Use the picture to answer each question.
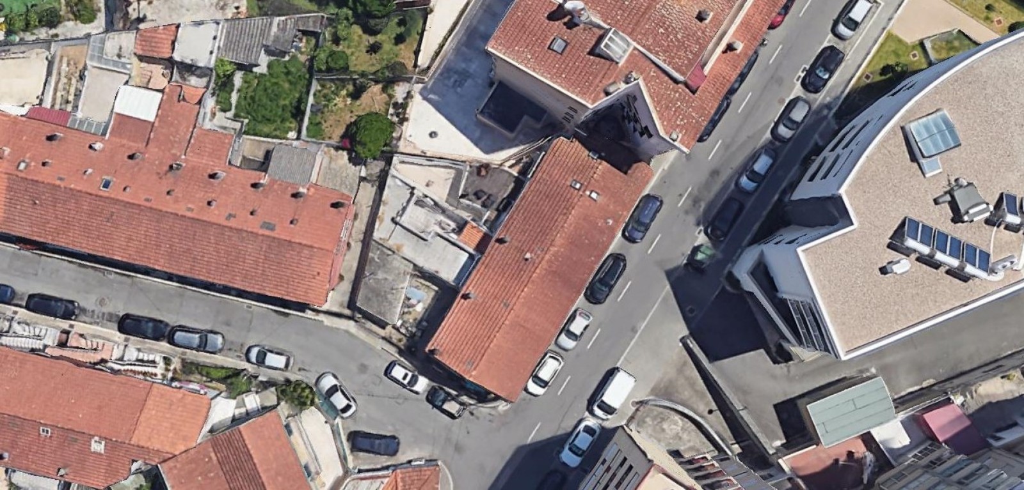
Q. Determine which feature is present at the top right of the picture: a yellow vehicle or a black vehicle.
black vehicle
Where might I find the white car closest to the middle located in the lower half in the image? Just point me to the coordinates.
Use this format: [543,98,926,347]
[555,309,593,350]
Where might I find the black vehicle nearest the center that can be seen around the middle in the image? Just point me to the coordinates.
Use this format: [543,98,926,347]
[585,255,628,303]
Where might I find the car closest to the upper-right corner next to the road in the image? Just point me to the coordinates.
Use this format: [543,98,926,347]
[832,0,879,39]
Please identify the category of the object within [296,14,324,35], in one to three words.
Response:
shed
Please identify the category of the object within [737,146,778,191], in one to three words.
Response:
car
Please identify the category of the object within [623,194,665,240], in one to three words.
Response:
car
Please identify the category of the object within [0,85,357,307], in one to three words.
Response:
house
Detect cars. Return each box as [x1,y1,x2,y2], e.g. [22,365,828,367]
[313,373,358,420]
[772,0,797,28]
[21,291,78,323]
[115,312,169,344]
[832,0,879,39]
[0,281,16,306]
[585,255,628,303]
[561,420,601,468]
[698,100,731,142]
[166,324,222,357]
[623,194,665,240]
[383,361,428,396]
[728,56,759,96]
[772,95,814,140]
[705,196,747,240]
[245,344,293,373]
[346,430,400,461]
[737,146,778,191]
[555,309,593,350]
[425,387,466,422]
[525,352,565,395]
[802,44,848,91]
